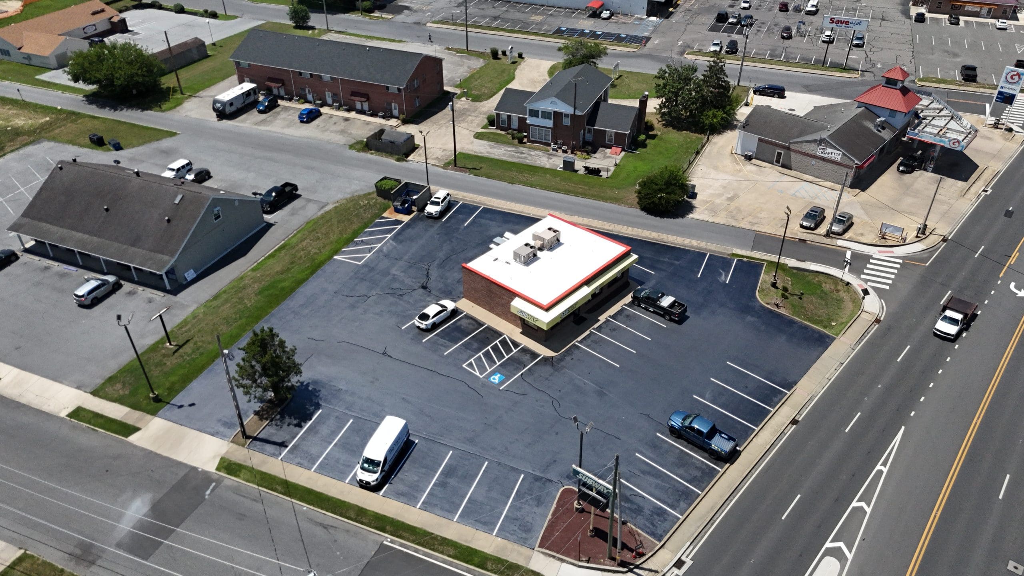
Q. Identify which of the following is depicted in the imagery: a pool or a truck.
truck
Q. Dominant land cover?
paved ground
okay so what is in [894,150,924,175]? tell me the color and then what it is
black car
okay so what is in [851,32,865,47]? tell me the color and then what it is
gray car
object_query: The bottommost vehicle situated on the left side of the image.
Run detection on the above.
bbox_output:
[351,414,413,494]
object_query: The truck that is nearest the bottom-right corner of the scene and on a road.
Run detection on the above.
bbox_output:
[929,291,984,345]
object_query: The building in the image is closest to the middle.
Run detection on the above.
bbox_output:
[460,213,640,340]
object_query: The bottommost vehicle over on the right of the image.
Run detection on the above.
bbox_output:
[662,410,744,464]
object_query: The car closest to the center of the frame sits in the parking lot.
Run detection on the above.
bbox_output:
[408,300,460,333]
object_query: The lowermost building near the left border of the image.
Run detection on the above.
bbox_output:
[6,155,264,288]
